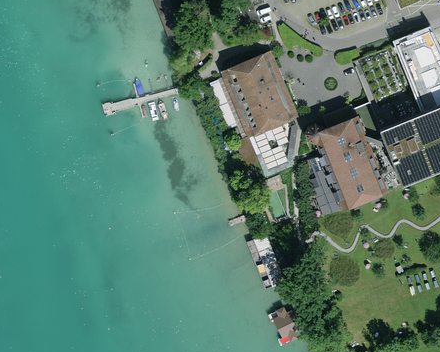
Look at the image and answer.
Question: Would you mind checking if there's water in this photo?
Yes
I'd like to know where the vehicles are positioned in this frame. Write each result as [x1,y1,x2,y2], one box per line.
[258,14,272,23]
[332,6,338,16]
[318,24,326,34]
[348,14,354,24]
[360,0,366,7]
[326,8,332,18]
[370,7,376,16]
[320,8,326,18]
[338,2,345,14]
[308,14,316,25]
[343,68,354,74]
[344,0,351,10]
[342,16,349,26]
[314,11,322,22]
[257,6,270,16]
[364,8,371,20]
[376,4,382,14]
[336,18,343,28]
[353,12,360,22]
[352,0,359,8]
[358,10,365,21]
